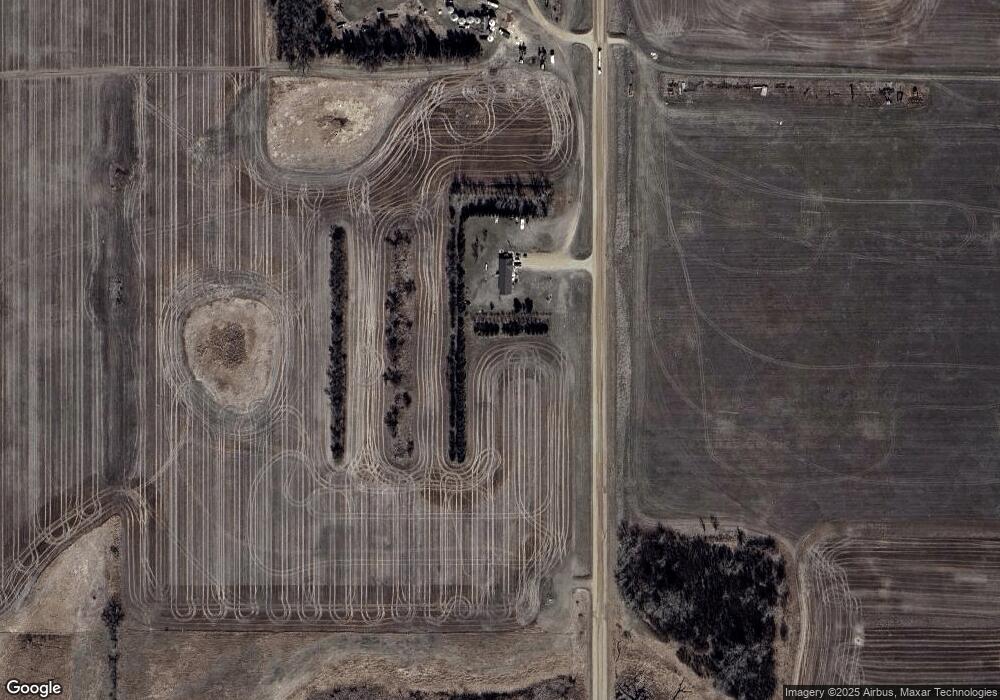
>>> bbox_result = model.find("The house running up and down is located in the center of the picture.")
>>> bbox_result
[499,260,514,297]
